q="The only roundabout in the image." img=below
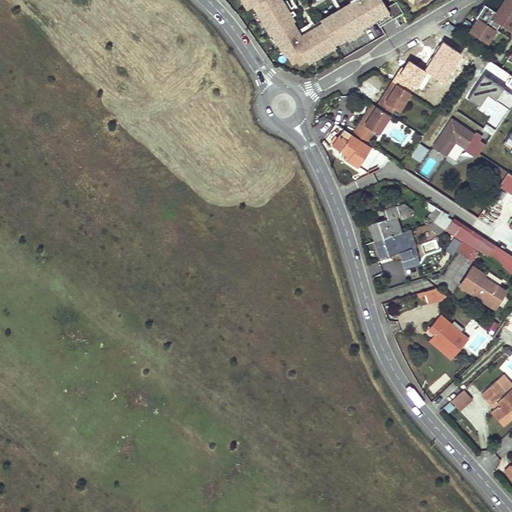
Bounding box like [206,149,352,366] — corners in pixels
[238,57,327,191]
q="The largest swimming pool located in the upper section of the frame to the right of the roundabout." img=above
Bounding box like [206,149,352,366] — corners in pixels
[378,120,414,147]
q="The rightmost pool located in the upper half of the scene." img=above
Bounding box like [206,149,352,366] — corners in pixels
[420,157,438,176]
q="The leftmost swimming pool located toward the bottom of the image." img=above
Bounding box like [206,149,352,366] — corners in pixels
[464,319,492,356]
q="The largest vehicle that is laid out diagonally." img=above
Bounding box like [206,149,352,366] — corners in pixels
[406,386,426,409]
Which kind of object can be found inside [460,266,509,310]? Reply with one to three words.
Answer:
house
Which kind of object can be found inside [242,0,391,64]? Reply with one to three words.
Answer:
building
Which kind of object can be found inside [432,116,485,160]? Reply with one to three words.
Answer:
house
